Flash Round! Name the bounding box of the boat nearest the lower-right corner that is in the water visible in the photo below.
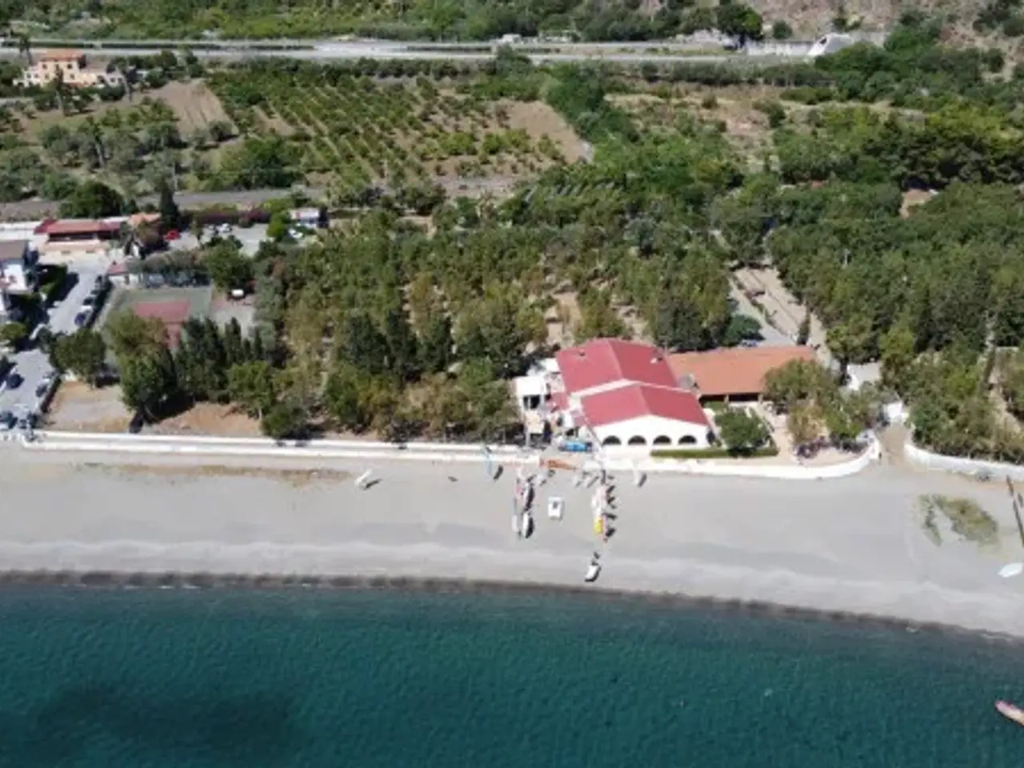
[994,701,1024,726]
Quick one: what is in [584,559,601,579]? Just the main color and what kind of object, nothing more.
white boat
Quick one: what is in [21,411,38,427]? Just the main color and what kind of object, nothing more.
gray car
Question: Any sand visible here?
Yes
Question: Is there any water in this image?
Yes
